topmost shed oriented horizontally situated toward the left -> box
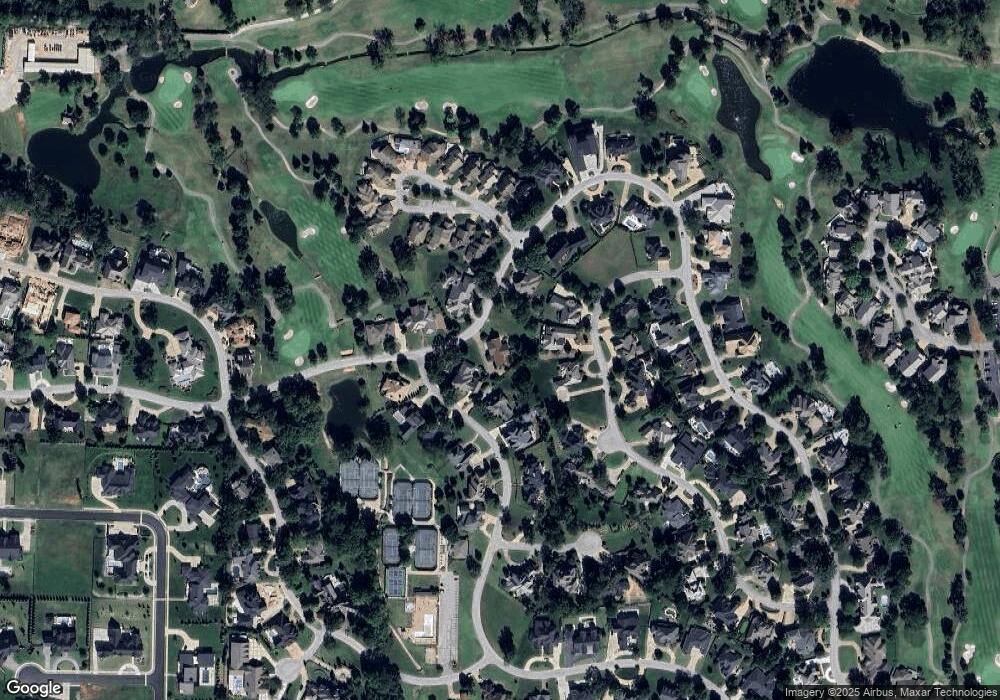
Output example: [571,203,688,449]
[23,43,94,72]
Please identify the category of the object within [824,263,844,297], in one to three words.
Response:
house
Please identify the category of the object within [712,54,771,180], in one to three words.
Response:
pond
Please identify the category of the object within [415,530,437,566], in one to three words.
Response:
tennis court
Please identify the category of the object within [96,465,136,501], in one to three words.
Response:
house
